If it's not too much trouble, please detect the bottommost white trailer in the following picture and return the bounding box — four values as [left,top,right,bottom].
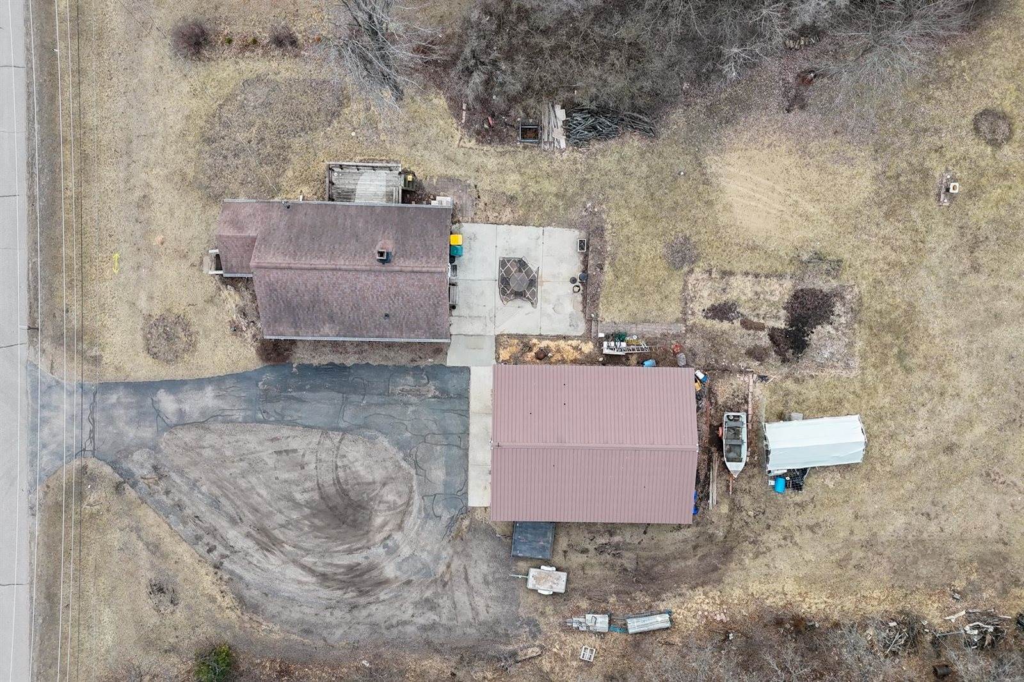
[509,563,567,597]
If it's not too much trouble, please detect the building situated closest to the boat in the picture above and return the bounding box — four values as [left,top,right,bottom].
[489,364,700,525]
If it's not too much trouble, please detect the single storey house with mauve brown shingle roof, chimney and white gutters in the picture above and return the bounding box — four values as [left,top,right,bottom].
[216,198,452,344]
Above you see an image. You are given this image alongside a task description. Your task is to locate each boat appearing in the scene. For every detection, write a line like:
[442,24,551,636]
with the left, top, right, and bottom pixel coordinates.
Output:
[722,411,746,478]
